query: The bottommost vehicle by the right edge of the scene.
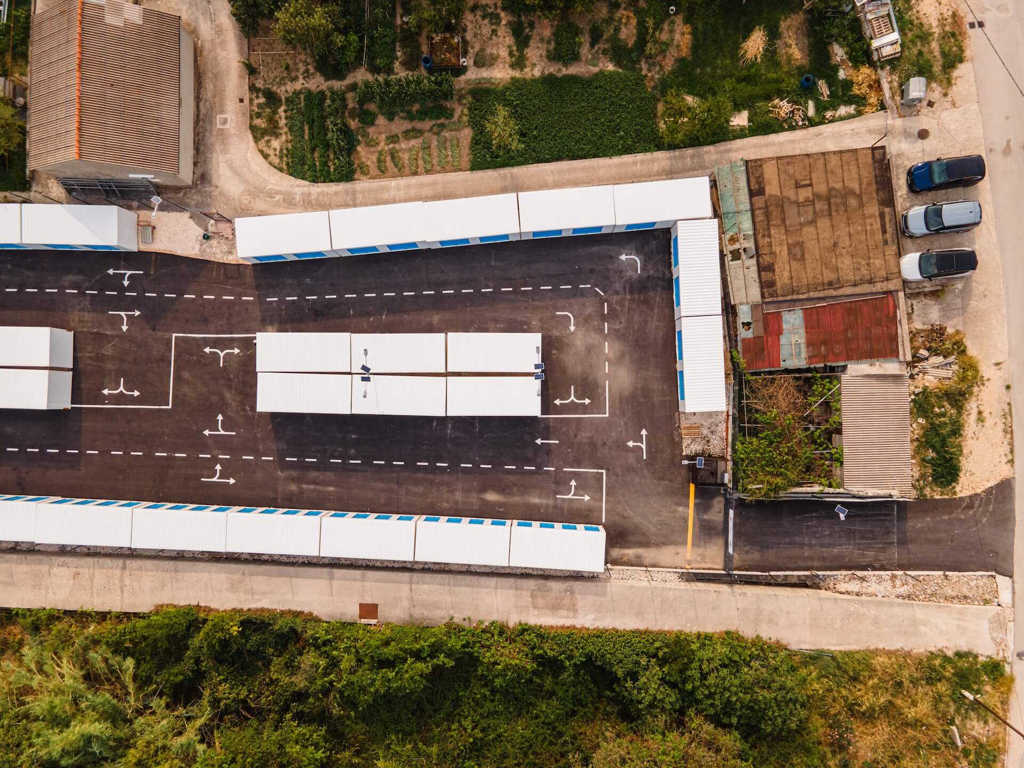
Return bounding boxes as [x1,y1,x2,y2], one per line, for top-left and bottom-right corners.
[900,247,979,282]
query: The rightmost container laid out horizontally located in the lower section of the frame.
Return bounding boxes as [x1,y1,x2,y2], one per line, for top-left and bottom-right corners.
[510,520,606,570]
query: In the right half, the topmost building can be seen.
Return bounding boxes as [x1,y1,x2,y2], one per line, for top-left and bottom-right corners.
[742,145,904,303]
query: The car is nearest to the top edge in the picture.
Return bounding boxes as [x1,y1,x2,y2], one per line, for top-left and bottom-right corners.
[904,156,987,193]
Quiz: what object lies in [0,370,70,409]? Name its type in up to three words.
shipping container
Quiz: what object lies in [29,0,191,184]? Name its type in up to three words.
shed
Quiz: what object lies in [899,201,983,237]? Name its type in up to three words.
car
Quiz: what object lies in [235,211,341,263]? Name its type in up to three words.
shipping container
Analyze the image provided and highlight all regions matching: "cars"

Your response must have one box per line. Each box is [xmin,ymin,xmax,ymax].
[900,247,979,282]
[899,201,983,237]
[904,156,987,193]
